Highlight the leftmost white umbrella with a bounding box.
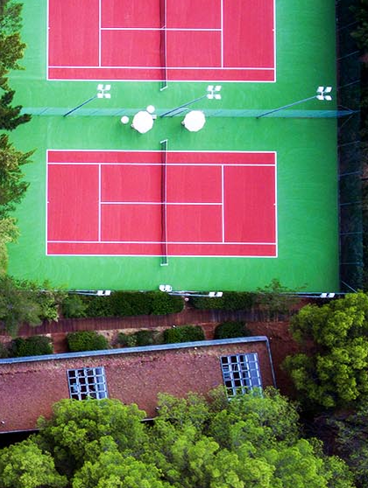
[129,111,153,133]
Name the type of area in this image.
sports ground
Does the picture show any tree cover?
Yes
